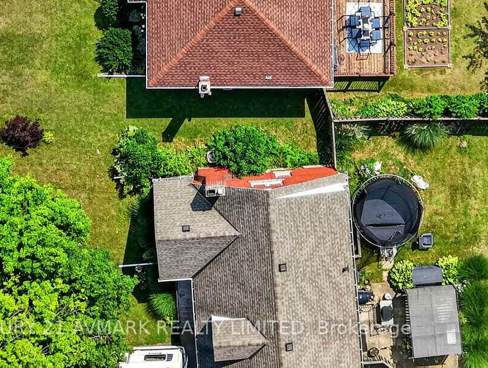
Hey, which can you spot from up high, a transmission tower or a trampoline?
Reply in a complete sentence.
Looking from above, you can make out a trampoline.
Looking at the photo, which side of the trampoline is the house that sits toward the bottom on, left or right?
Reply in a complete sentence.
The house that sits toward the bottom appears to the left of the trampoline in this view.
